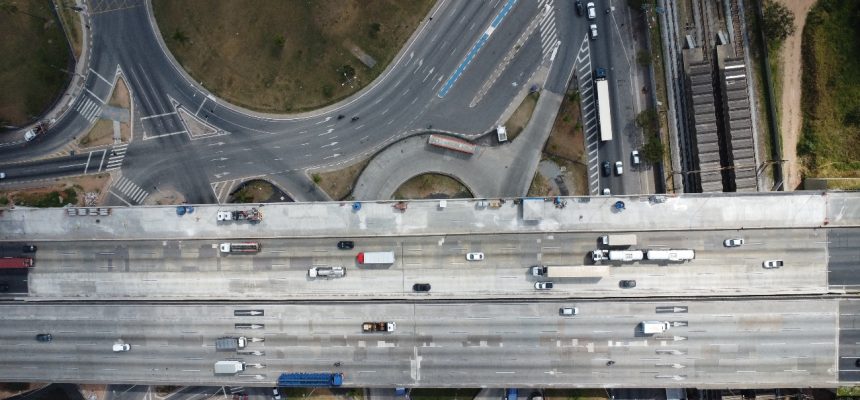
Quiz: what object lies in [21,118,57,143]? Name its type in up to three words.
truck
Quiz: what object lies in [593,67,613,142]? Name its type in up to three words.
vehicle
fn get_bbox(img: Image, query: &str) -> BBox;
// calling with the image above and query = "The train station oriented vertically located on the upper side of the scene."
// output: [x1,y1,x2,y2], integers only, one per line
[680,31,757,194]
